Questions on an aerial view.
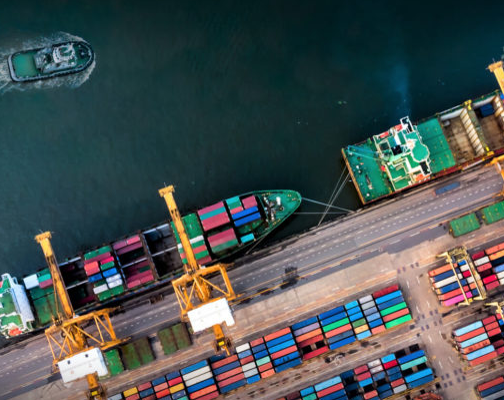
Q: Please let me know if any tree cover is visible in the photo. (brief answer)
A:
No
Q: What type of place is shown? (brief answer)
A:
port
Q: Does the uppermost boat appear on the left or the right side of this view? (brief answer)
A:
left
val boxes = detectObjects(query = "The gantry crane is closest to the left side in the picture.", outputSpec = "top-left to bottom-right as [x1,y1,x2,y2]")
[35,229,140,400]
